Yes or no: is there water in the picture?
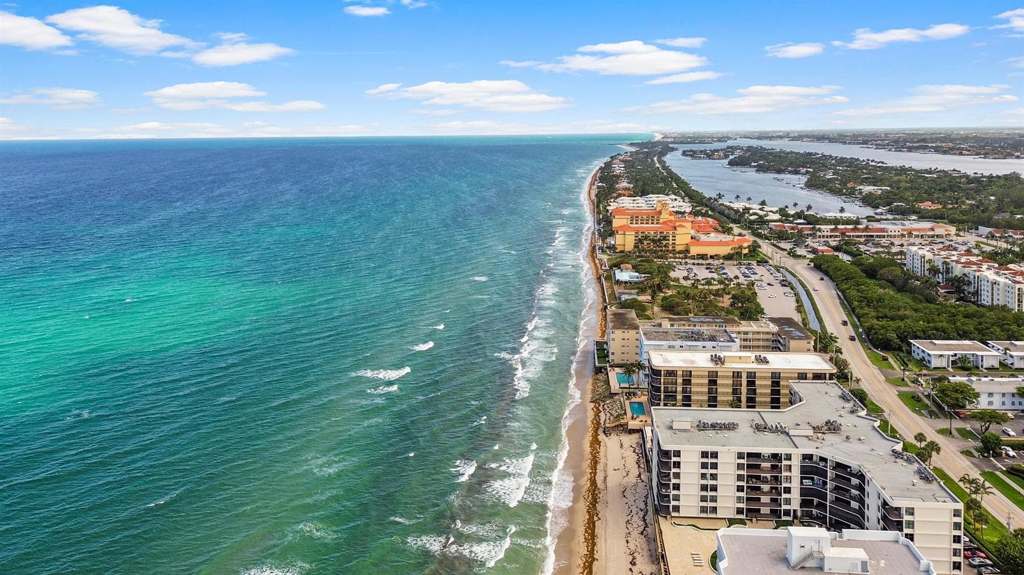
Yes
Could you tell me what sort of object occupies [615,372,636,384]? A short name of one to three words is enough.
swimming pool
